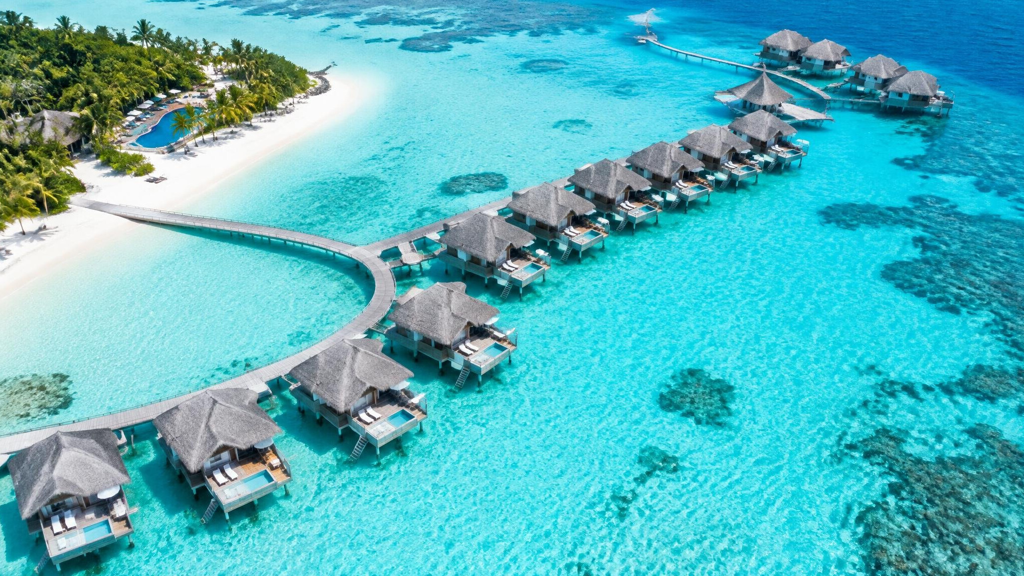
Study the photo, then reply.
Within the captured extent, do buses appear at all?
No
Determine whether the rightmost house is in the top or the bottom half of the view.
top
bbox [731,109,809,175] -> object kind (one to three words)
house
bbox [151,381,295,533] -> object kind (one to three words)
house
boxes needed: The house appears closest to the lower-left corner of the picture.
[5,417,142,576]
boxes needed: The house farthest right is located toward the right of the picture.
[871,66,959,130]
